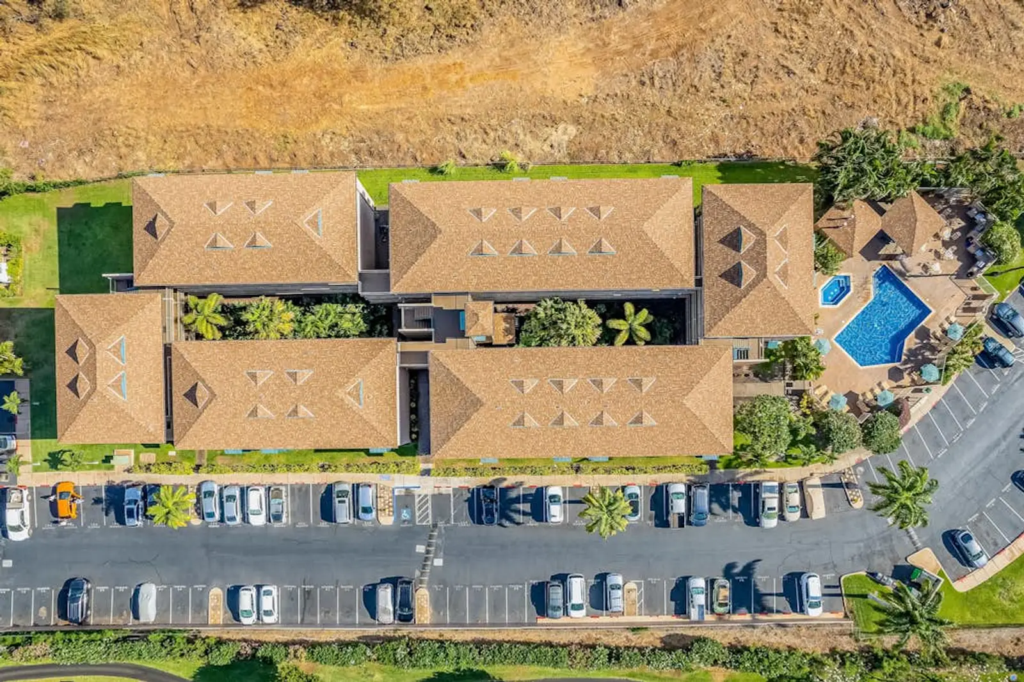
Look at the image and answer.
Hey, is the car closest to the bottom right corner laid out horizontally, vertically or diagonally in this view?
diagonally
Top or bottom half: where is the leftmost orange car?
bottom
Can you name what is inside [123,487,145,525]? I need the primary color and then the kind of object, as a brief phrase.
blue car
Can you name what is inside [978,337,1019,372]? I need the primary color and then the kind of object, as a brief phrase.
blue truck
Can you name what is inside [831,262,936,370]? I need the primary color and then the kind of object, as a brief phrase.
blue swimming pool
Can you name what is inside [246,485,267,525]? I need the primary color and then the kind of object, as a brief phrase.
white car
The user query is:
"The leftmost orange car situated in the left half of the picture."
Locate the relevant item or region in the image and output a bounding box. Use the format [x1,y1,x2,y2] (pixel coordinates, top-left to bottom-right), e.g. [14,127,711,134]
[48,481,90,519]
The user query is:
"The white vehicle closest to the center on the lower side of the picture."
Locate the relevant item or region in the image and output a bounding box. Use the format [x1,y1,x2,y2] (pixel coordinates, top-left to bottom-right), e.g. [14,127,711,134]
[544,485,564,522]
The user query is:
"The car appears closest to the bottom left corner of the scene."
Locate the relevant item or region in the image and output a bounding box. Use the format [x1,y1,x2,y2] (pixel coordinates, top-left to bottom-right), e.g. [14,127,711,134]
[67,576,94,622]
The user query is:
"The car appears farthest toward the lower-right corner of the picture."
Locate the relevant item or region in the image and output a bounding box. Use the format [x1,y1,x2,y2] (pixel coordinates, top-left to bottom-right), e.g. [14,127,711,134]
[949,525,987,569]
